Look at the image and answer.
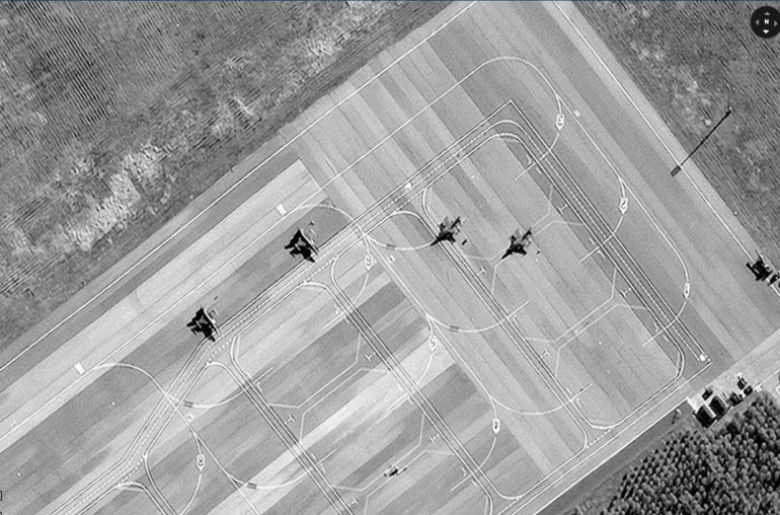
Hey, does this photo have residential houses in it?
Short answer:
No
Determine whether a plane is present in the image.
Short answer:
Yes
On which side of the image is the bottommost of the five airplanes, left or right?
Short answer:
left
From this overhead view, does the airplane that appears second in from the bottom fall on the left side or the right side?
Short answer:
right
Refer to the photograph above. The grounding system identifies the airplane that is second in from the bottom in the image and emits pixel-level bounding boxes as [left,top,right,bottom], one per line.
[759,248,780,276]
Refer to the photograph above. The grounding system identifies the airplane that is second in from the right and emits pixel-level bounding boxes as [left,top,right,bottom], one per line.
[503,224,535,251]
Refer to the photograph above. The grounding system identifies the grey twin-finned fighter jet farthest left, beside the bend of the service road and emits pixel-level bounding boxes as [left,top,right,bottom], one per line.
[193,303,220,334]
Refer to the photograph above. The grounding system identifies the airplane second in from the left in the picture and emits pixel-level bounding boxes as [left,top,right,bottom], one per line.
[292,226,319,256]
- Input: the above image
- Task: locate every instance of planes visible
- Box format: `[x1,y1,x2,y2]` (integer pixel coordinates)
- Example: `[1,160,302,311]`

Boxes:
[503,224,535,251]
[436,213,468,239]
[193,303,220,334]
[292,226,319,256]
[759,248,780,276]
